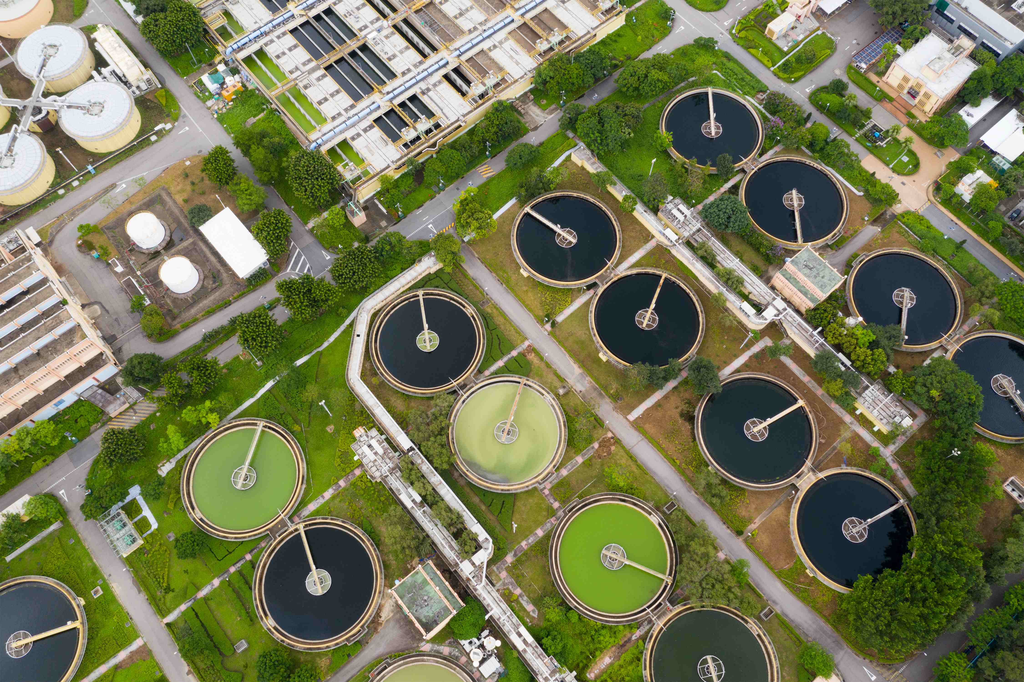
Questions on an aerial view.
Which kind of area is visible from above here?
industrial area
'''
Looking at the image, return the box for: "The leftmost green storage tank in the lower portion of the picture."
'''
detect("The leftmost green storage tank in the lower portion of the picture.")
[179,417,307,541]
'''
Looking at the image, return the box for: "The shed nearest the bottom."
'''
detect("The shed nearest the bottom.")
[476,653,511,681]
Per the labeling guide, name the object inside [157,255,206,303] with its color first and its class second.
white storage tank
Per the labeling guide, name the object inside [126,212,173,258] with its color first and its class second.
white storage tank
